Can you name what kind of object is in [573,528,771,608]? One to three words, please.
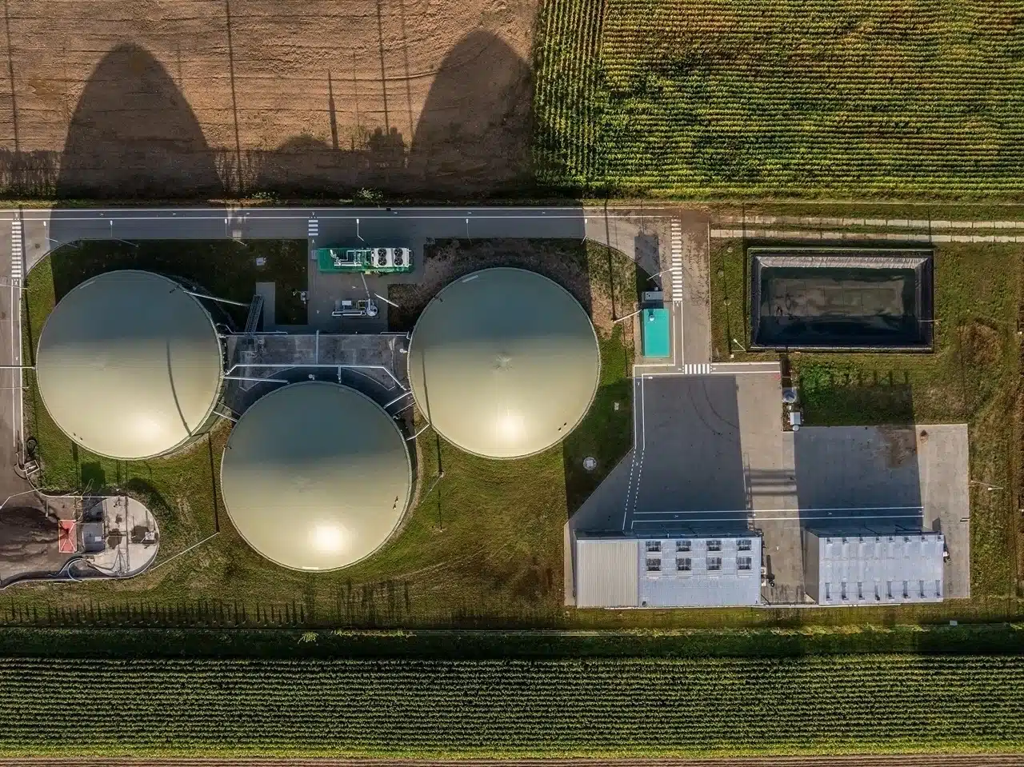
building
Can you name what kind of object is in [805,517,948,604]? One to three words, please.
building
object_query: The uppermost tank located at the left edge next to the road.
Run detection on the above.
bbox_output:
[35,271,233,458]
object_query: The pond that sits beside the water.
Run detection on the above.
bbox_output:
[752,251,935,349]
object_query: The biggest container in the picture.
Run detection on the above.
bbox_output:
[312,248,416,275]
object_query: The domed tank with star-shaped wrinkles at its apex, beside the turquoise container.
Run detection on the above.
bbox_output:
[408,267,600,459]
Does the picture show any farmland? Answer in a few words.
Yes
